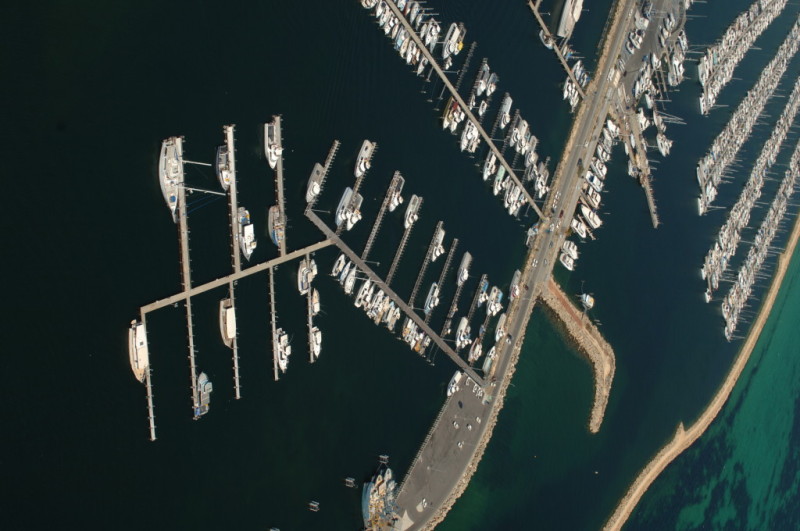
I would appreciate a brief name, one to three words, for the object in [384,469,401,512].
vessel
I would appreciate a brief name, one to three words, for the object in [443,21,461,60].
boat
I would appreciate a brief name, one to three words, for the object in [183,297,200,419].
pier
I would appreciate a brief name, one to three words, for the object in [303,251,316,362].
pier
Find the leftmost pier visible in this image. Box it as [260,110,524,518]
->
[139,315,158,440]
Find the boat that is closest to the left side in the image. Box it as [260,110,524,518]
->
[128,321,152,383]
